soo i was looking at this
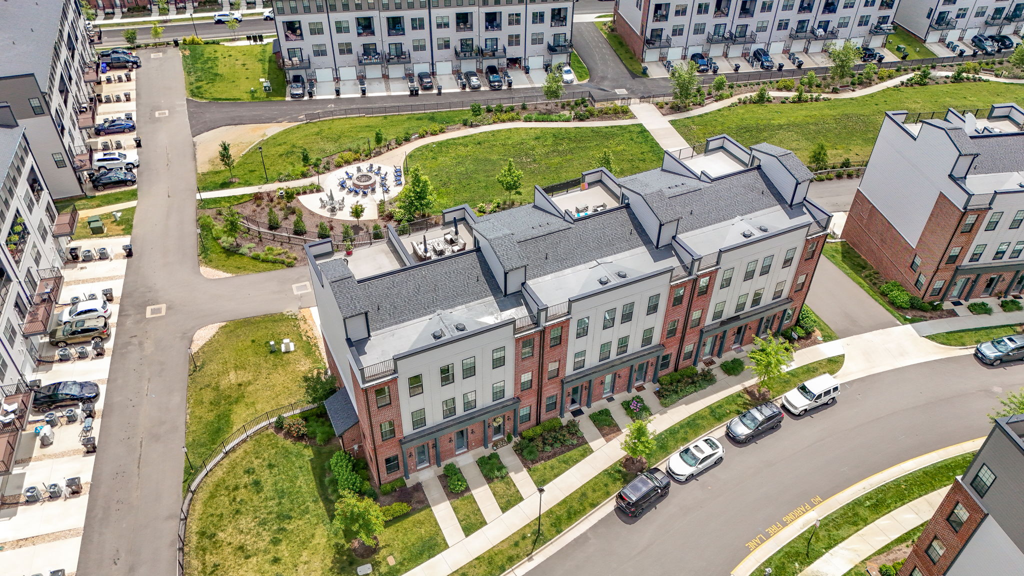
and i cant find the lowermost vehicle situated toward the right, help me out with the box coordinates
[613,471,676,520]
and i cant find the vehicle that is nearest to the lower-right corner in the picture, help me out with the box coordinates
[980,338,1024,372]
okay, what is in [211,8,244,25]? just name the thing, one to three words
car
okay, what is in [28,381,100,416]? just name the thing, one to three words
car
